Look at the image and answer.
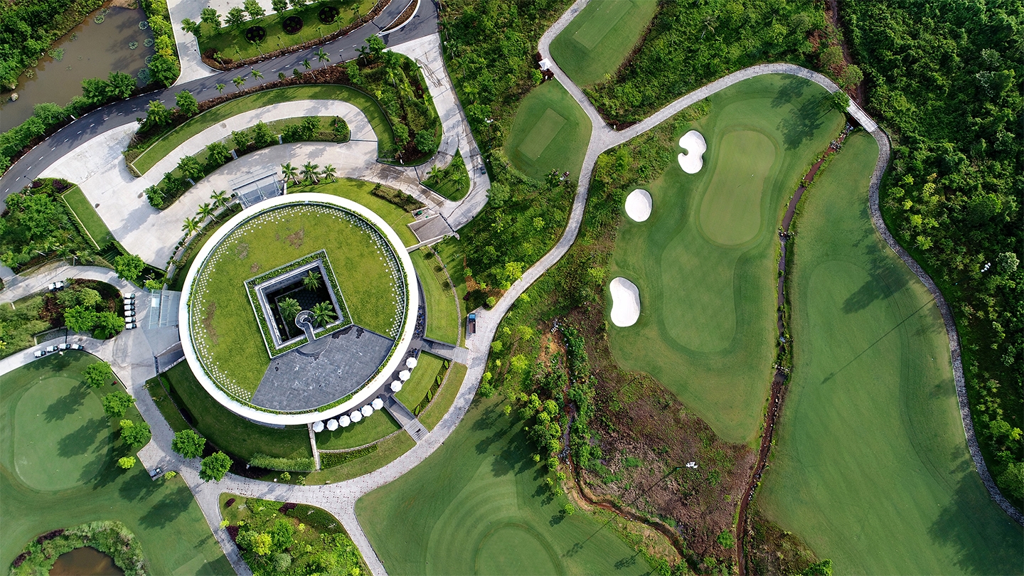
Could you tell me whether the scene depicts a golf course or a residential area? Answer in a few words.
golf course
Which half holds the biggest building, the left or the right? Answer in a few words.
left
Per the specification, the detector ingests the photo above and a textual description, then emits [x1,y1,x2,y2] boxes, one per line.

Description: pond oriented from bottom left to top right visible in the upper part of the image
[0,7,155,146]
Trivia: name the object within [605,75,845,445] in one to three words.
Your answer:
golf course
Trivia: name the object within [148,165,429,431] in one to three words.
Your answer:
building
